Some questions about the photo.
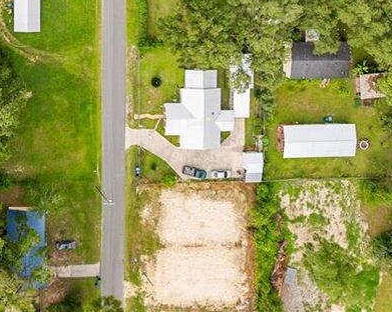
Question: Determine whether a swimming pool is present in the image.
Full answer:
No, the photo shows no swimming pool.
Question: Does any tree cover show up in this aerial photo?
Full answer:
Yes, tree cover shows up in the scene.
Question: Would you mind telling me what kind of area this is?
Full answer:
It's a residential area.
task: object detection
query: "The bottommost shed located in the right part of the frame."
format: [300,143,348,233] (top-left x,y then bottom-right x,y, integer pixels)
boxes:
[239,148,263,181]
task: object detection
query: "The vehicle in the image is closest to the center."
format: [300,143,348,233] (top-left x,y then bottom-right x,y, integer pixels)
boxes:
[181,165,207,178]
